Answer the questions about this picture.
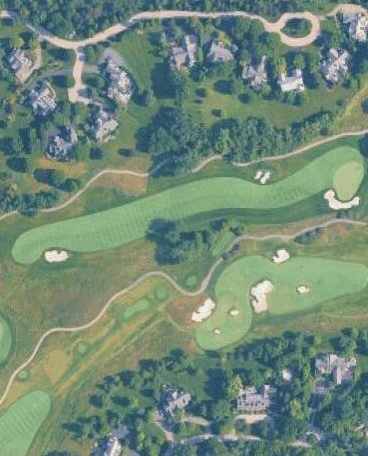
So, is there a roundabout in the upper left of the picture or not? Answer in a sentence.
No, in the upper left of the picture there is no roundabout.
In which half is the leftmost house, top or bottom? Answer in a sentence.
You can find the leftmost house in the top half.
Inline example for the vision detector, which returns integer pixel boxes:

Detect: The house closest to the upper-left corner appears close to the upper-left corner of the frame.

[6,47,34,83]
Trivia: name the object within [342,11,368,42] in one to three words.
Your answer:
house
